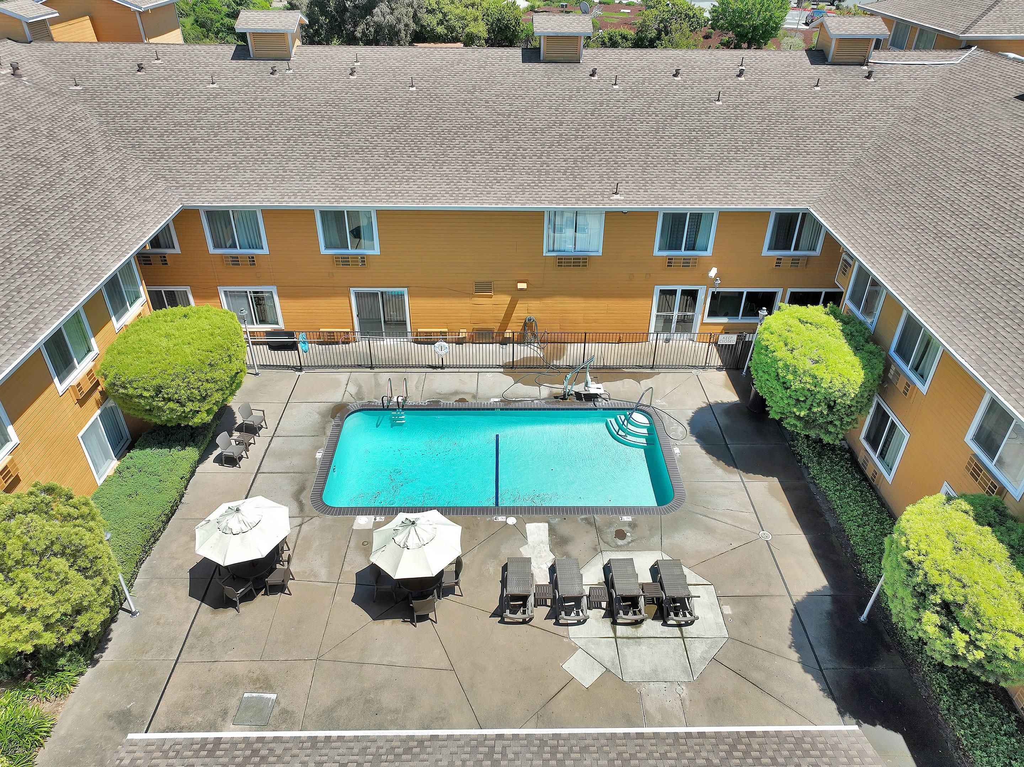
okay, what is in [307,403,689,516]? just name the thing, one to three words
swimming pool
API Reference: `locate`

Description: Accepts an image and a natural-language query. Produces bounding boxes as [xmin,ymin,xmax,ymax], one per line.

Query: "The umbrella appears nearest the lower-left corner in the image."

[195,496,291,568]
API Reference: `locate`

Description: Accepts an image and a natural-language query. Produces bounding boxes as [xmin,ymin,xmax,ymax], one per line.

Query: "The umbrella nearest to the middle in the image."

[368,510,462,581]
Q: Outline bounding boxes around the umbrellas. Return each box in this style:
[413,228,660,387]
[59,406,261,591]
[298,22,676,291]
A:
[195,496,291,568]
[368,510,462,581]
